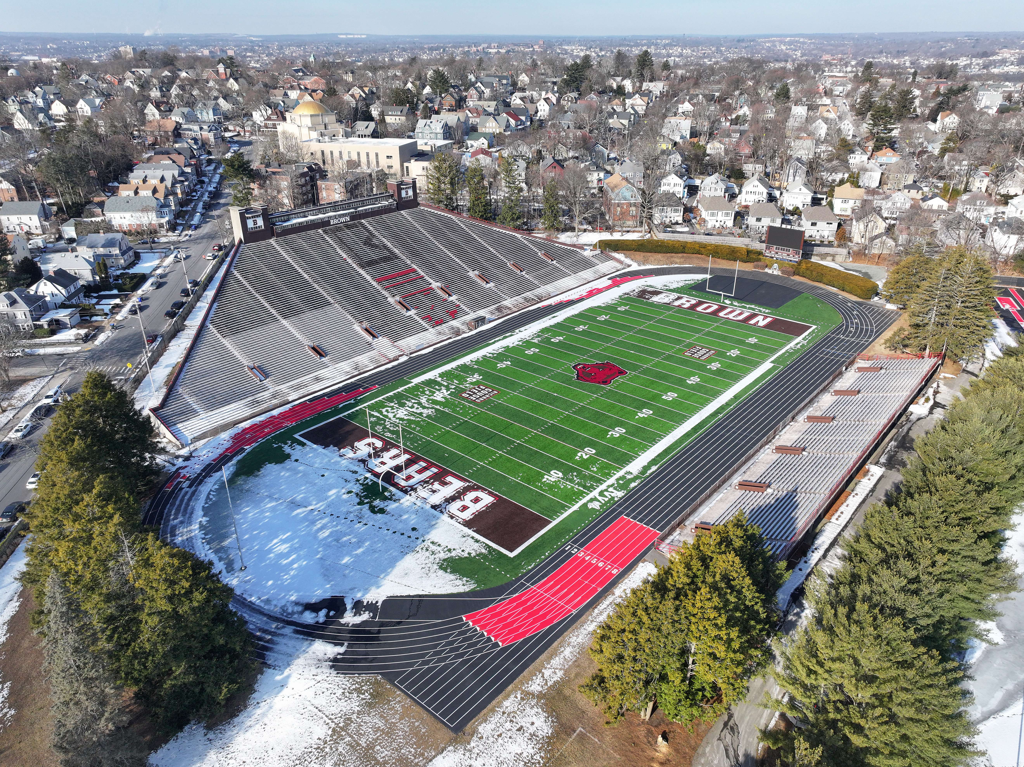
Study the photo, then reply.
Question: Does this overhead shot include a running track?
Yes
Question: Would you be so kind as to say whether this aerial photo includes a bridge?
No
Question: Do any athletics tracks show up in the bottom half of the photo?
Yes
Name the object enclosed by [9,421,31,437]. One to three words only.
car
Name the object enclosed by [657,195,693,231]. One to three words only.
house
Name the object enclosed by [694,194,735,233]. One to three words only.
house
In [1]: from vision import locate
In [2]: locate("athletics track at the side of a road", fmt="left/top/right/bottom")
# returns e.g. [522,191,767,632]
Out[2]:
[150,266,901,734]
